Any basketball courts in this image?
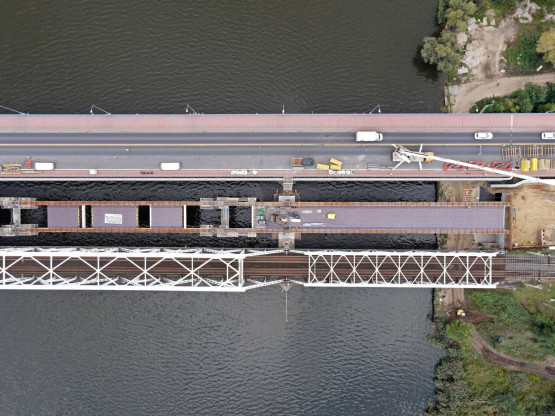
No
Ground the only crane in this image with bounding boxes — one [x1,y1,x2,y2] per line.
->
[389,143,555,186]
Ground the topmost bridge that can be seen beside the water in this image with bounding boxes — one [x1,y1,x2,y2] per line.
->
[0,112,555,181]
